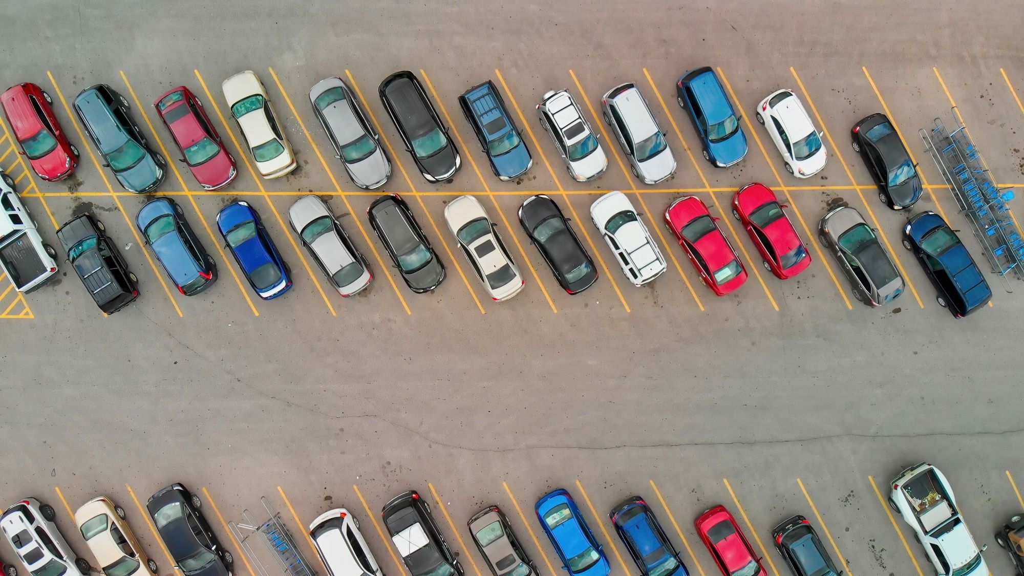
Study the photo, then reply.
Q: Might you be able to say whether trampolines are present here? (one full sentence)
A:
No, there isn't any trampoline down there.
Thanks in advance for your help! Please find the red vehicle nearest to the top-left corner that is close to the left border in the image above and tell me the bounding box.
[1,82,83,181]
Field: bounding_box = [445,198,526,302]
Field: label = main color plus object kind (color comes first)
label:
white car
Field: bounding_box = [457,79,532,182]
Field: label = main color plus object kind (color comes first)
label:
blue car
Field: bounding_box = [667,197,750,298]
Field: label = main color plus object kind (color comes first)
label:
red car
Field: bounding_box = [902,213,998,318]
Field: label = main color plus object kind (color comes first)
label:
blue car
